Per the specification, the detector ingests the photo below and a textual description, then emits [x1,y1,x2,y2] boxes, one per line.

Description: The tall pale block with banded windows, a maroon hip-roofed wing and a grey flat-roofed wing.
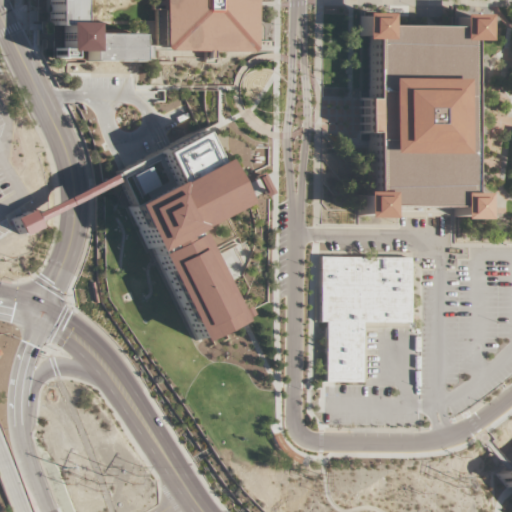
[52,0,152,62]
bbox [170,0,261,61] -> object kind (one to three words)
building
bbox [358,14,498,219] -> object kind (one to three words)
building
